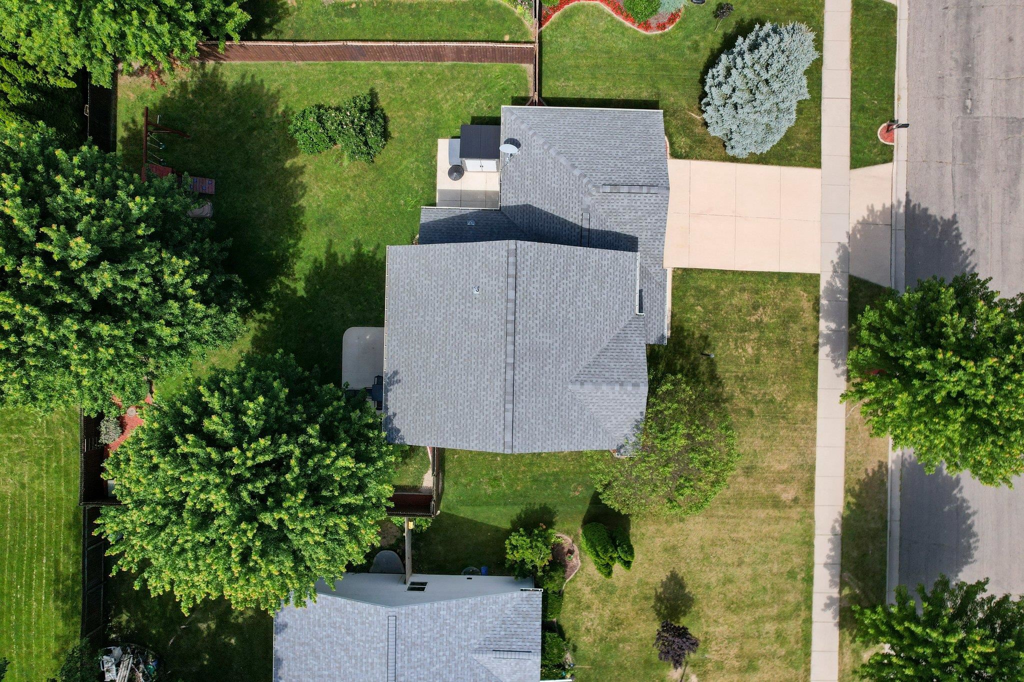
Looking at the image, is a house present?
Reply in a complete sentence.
Yes, the image includes a house.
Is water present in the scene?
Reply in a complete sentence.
No, water can't be seen anywhere here.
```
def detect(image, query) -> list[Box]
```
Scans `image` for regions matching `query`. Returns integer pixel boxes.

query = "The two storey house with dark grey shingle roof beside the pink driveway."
[381,103,671,458]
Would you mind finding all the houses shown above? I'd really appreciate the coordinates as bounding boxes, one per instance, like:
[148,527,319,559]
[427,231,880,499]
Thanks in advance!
[381,103,671,458]
[270,575,544,682]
